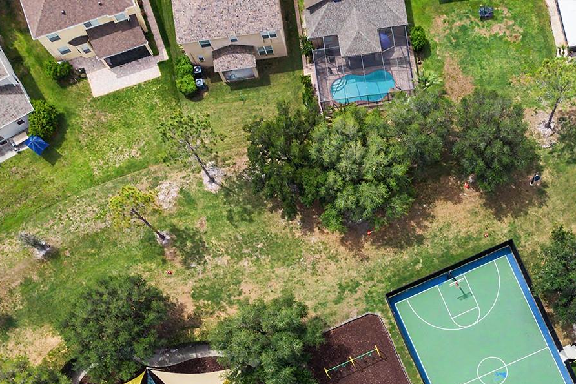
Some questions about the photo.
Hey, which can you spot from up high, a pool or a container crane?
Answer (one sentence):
This aerial view contains a pool.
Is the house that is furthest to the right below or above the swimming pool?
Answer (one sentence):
From this view, the house that is furthest to the right can be seen above the swimming pool.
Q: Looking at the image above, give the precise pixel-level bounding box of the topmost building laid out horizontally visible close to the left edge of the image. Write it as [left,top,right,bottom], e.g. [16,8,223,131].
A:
[20,0,157,72]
